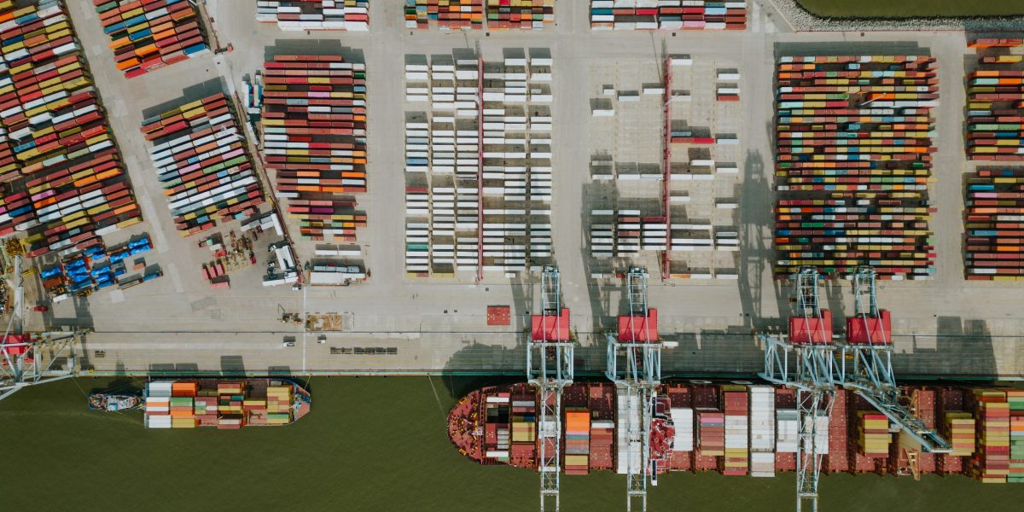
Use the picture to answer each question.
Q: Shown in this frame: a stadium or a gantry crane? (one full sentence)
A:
The one in the frame is a gantry crane.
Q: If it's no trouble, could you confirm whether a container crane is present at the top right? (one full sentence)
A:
No, I see no container crane at the top right.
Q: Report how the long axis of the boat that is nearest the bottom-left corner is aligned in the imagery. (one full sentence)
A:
From this overhead view, the boat that is nearest the bottom-left corner appears to run from side to side.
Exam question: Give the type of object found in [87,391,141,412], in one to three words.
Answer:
boat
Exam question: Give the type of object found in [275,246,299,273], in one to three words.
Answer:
building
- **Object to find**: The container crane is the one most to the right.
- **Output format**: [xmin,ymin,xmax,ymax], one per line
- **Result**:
[823,266,958,449]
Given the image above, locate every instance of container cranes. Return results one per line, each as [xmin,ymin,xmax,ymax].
[750,267,835,512]
[518,266,577,512]
[0,266,95,404]
[823,266,958,449]
[595,267,678,512]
